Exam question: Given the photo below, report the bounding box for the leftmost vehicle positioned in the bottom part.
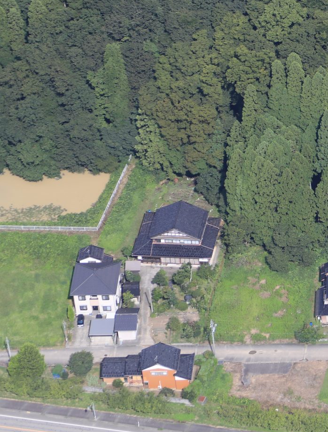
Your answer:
[74,312,87,327]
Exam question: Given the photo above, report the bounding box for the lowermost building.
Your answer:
[99,341,207,393]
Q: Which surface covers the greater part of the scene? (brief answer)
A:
trees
